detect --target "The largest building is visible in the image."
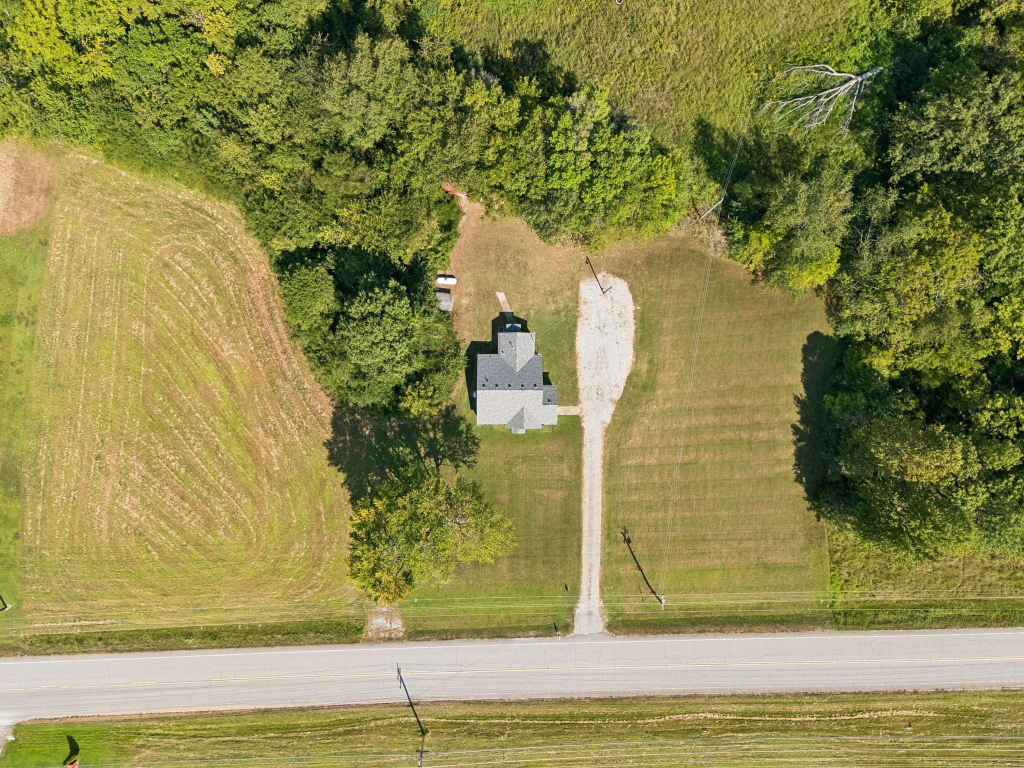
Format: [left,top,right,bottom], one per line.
[476,324,559,433]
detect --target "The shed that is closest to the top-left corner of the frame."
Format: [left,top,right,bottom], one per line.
[436,288,453,311]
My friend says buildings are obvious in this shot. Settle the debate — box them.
[436,288,453,311]
[476,324,559,433]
